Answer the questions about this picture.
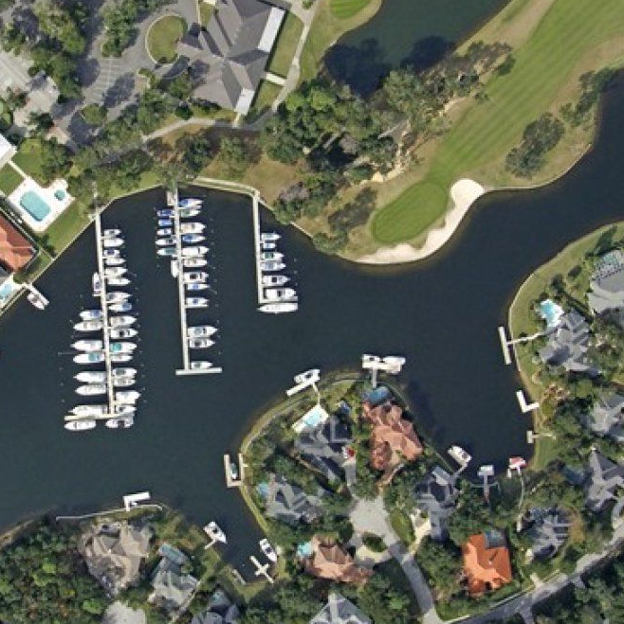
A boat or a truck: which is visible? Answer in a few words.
boat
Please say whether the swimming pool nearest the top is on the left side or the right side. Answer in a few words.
left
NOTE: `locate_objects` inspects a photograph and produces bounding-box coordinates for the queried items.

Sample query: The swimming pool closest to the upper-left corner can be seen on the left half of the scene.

[8,177,75,232]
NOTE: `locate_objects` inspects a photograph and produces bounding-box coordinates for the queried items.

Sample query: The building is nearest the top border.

[177,0,285,125]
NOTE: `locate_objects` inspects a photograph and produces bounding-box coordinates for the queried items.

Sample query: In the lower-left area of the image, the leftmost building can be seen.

[88,519,148,592]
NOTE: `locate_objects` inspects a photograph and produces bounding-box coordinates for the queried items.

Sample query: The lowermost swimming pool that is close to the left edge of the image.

[0,274,23,308]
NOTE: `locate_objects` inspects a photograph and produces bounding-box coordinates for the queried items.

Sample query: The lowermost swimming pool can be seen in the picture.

[210,590,229,605]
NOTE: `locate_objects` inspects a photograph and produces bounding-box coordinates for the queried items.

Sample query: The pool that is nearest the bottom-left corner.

[160,543,190,568]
